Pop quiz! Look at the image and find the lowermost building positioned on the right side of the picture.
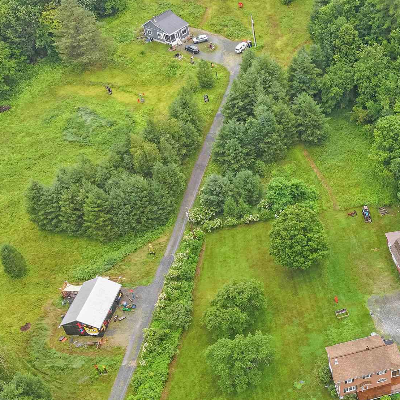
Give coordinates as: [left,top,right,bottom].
[326,335,400,400]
